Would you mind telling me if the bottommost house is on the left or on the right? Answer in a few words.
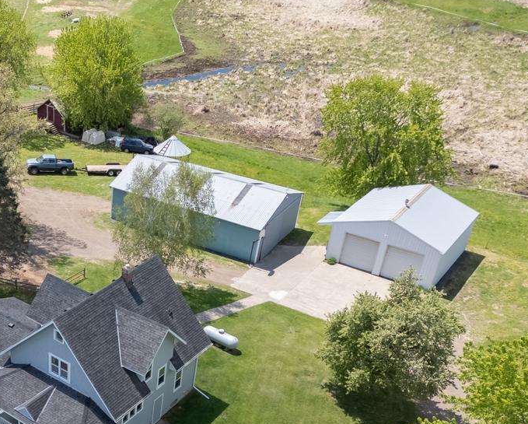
left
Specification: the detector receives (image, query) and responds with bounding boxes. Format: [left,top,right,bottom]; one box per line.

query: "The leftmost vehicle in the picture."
[25,151,76,174]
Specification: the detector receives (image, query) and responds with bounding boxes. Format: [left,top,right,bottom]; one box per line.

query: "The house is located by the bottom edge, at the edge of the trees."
[0,257,216,424]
